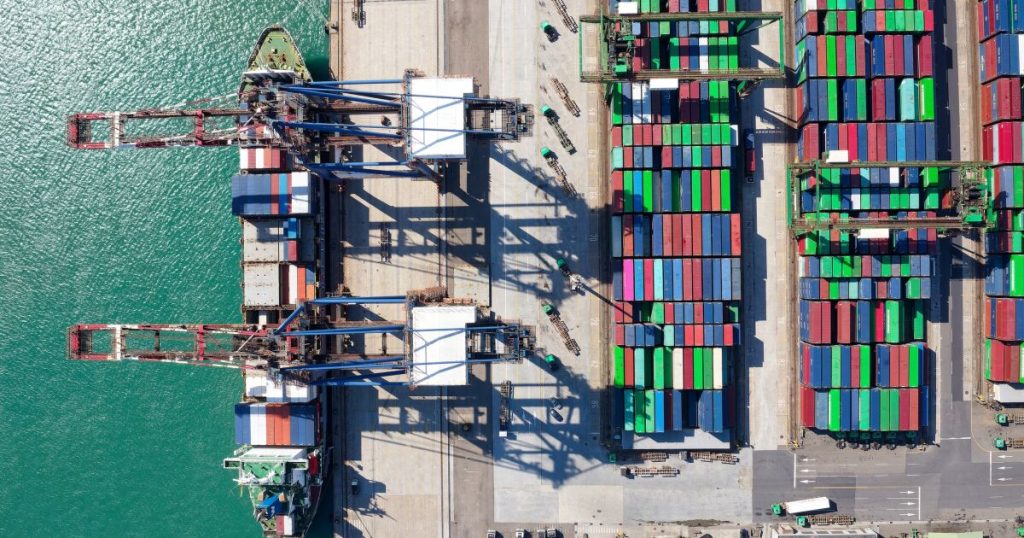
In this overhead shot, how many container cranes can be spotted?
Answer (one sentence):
Looking from above, you can make out 4 container cranes.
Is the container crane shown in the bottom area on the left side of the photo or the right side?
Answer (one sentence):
It is on the left.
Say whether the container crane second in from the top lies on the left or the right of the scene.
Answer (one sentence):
The container crane second in from the top is on the left side of the image.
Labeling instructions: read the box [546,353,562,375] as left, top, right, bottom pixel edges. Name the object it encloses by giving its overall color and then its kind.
green vehicle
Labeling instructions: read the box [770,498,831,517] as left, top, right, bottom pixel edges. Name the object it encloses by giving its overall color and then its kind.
white vehicle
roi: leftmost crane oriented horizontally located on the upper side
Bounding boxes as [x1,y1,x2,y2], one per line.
[66,75,536,197]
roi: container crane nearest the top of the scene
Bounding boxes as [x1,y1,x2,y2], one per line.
[579,2,784,102]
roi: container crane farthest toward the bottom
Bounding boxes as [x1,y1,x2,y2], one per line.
[65,286,538,386]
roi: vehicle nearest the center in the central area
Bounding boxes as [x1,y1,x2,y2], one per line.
[555,257,573,279]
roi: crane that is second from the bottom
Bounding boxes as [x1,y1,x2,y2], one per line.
[785,150,993,256]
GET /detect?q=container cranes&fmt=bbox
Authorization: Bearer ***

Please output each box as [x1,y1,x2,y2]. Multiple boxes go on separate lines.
[579,2,784,102]
[66,75,536,197]
[785,150,993,256]
[65,286,538,386]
